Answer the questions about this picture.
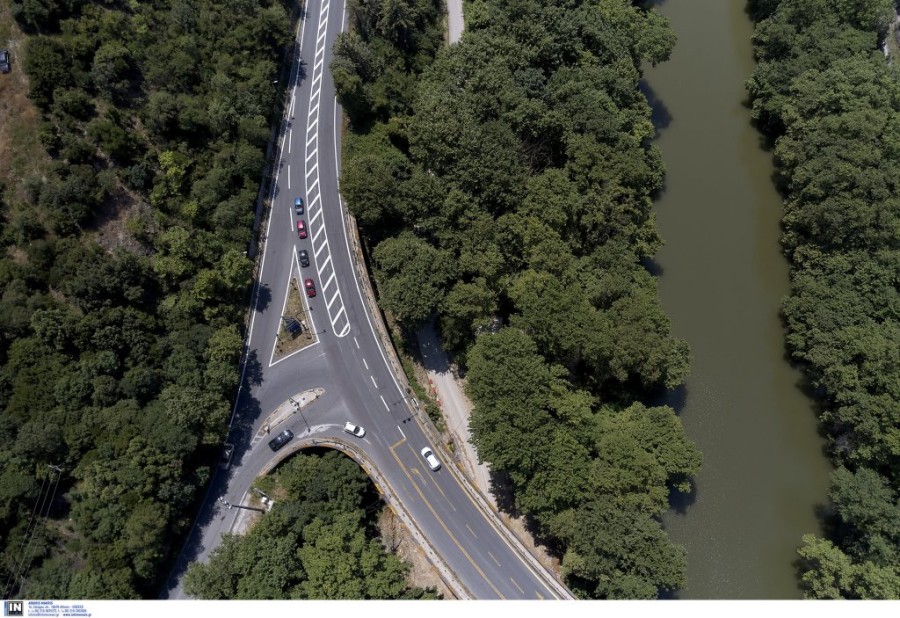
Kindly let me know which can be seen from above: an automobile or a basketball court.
automobile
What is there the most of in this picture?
trees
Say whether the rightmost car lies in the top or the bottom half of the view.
bottom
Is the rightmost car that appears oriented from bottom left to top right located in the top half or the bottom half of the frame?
bottom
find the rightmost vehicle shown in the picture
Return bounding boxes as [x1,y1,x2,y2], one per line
[421,446,441,471]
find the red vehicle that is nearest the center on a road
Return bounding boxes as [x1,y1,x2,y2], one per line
[304,278,317,299]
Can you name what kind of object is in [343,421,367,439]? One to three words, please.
car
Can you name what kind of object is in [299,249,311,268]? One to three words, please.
vehicle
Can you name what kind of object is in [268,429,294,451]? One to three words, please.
car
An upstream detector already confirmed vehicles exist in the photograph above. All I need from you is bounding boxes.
[294,197,304,215]
[0,51,11,71]
[299,249,311,268]
[421,446,441,471]
[268,429,294,451]
[304,278,317,299]
[343,421,367,439]
[297,220,308,239]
